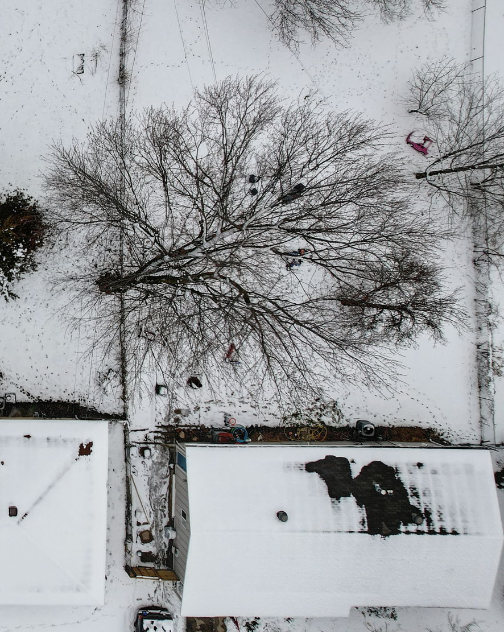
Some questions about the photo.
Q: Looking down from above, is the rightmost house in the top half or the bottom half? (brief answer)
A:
bottom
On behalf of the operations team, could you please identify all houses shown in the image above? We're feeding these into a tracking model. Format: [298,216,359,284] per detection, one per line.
[0,418,108,607]
[170,427,504,617]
